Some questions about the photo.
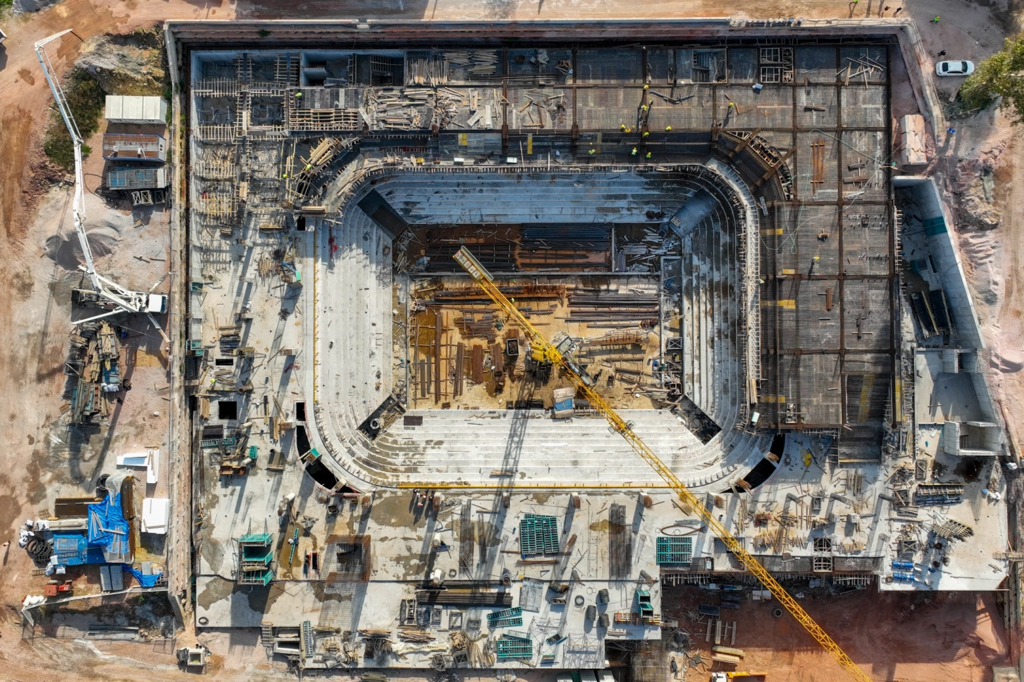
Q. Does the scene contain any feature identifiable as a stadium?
Yes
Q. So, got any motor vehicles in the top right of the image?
Yes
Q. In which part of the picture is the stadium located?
center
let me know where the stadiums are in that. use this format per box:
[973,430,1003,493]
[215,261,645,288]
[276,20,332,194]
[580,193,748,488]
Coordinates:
[304,144,769,496]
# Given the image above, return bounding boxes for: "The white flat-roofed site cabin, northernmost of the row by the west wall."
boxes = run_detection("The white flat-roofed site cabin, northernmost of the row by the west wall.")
[105,96,166,123]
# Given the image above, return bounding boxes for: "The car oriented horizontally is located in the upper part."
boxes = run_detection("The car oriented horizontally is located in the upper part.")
[935,57,975,77]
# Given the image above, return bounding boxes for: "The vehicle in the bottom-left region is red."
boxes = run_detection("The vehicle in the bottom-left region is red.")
[44,580,73,599]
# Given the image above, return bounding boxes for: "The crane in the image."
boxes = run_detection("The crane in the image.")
[441,236,877,682]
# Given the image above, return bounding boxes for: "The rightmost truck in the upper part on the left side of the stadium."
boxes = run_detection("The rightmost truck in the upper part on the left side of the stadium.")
[32,25,177,344]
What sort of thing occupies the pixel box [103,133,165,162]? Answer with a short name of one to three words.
building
